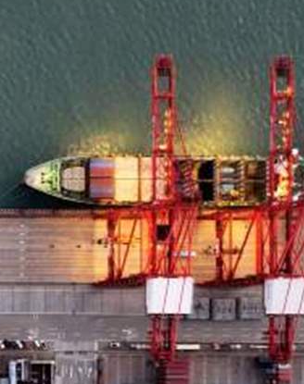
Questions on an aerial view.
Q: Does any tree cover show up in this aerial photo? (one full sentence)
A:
No, no tree cover is visible.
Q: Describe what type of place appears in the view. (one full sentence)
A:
This image shows a port.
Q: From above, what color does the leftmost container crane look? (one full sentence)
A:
The leftmost container crane is red.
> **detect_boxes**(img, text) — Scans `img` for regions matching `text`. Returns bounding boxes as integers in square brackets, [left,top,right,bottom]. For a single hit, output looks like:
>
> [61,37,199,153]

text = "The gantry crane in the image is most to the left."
[93,55,213,359]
